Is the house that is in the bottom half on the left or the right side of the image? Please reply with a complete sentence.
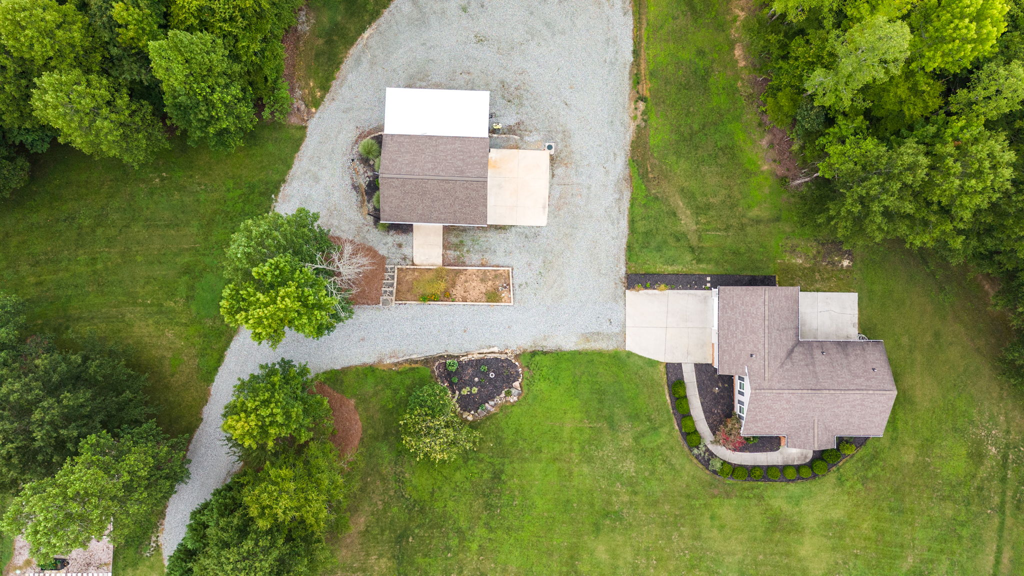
The house that is in the bottom half sits on the right side.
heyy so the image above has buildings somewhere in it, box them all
[378,87,491,227]
[712,286,896,451]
